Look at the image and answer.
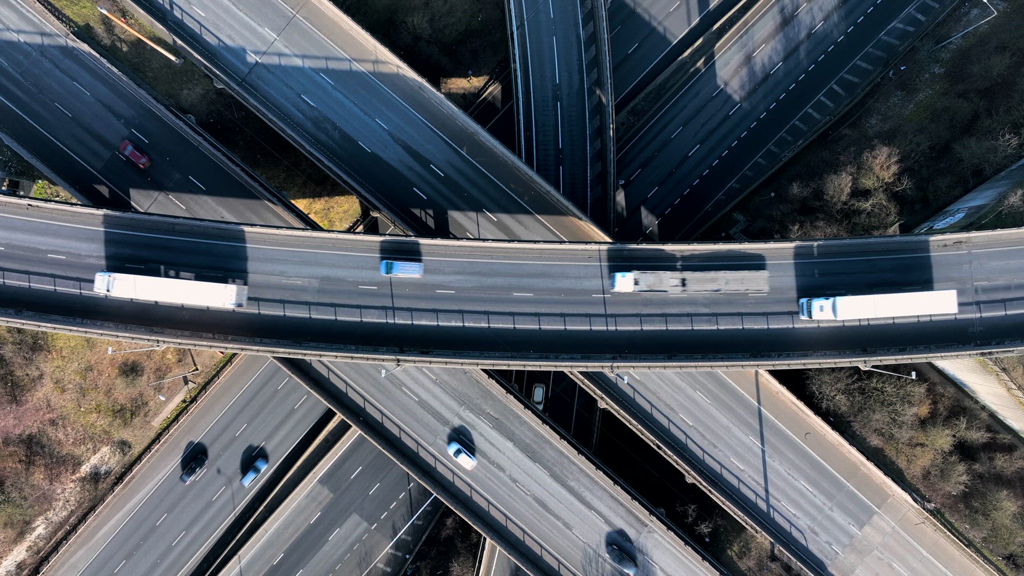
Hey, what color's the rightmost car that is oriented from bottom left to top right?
blue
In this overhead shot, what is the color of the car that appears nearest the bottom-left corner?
black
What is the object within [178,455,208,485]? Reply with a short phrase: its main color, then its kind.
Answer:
black car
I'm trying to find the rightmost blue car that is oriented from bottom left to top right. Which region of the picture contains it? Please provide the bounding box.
[239,457,268,487]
